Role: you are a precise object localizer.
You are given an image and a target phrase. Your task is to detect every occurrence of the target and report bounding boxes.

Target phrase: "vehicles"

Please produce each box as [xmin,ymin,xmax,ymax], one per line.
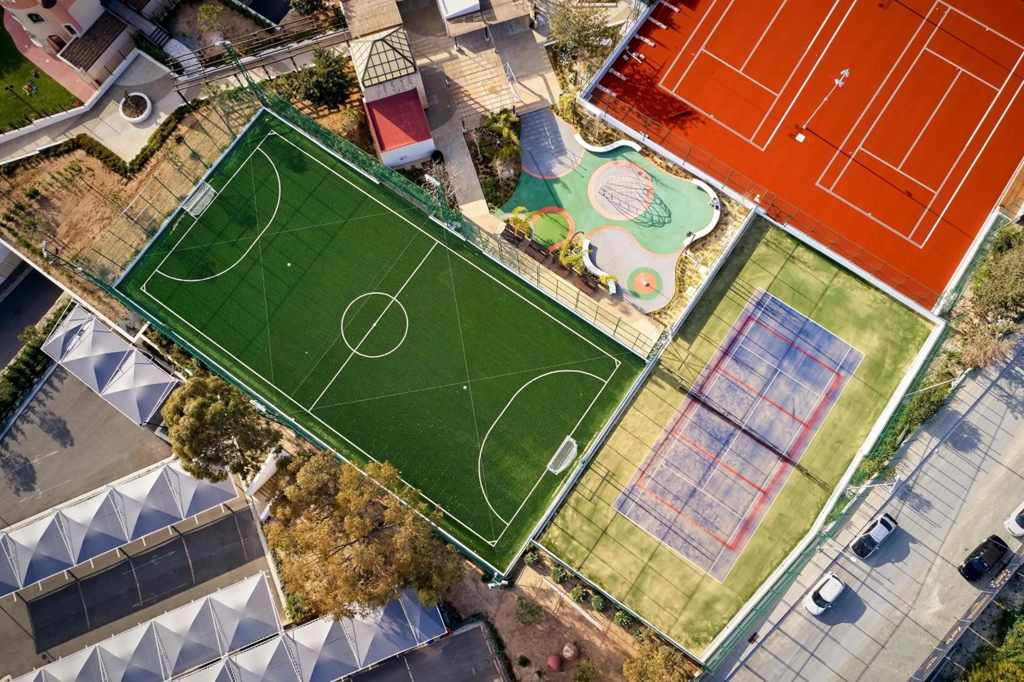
[849,511,899,560]
[958,534,1011,583]
[800,569,845,618]
[1003,499,1024,536]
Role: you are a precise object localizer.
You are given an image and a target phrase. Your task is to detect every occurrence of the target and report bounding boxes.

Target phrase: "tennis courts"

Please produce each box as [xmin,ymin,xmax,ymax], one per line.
[586,0,914,219]
[537,221,934,656]
[776,0,1024,313]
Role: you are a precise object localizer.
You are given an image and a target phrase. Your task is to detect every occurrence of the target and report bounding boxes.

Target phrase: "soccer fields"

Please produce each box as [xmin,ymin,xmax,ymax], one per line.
[119,111,648,576]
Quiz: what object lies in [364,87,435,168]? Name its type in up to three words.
building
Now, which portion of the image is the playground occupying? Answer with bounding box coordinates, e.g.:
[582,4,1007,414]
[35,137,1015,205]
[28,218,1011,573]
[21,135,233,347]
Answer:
[496,108,715,313]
